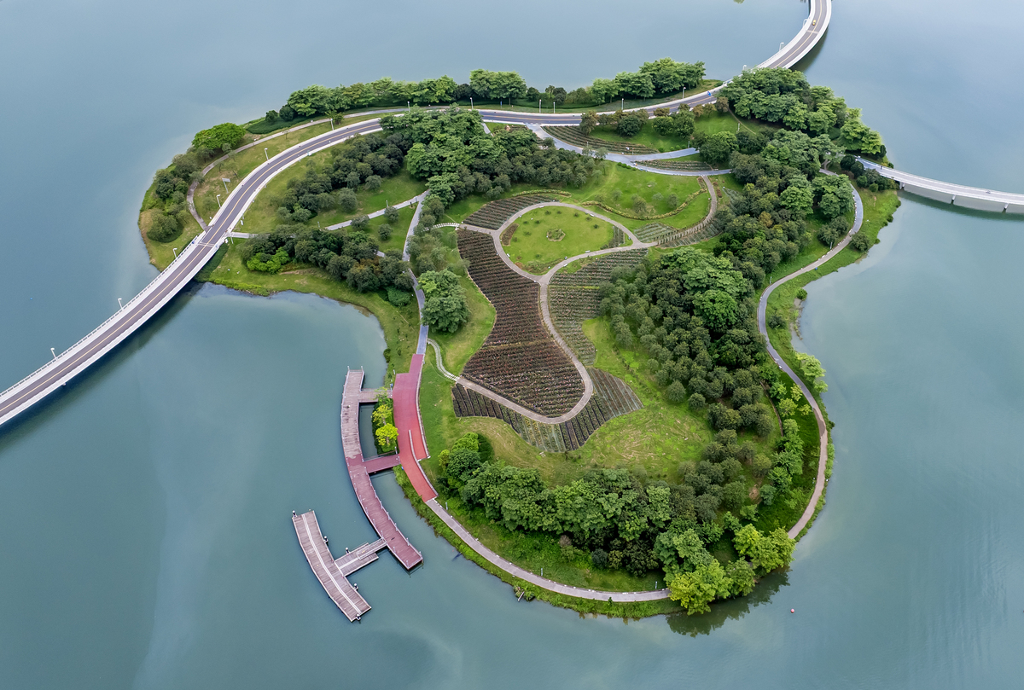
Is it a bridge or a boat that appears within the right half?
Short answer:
bridge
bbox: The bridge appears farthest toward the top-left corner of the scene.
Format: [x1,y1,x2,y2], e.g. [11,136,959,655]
[0,242,216,424]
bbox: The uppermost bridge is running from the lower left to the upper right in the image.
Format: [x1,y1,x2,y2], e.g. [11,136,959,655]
[717,0,830,87]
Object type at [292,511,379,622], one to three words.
pier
